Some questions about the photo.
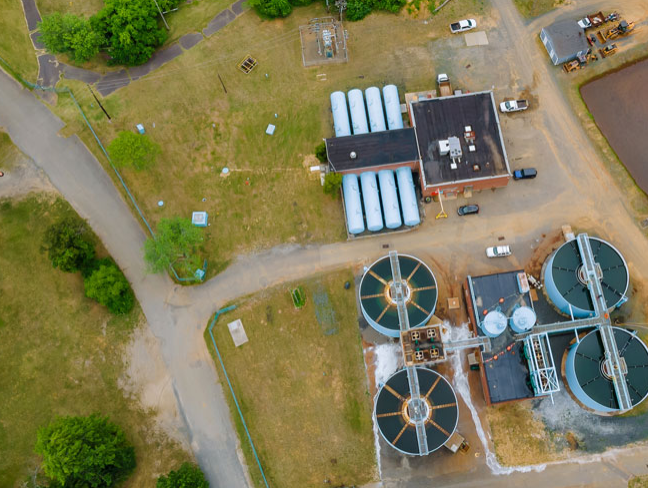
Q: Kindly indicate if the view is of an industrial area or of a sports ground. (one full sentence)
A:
It's an industrial area.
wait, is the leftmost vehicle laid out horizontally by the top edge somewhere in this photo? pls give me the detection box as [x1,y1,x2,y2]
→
[449,19,477,33]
